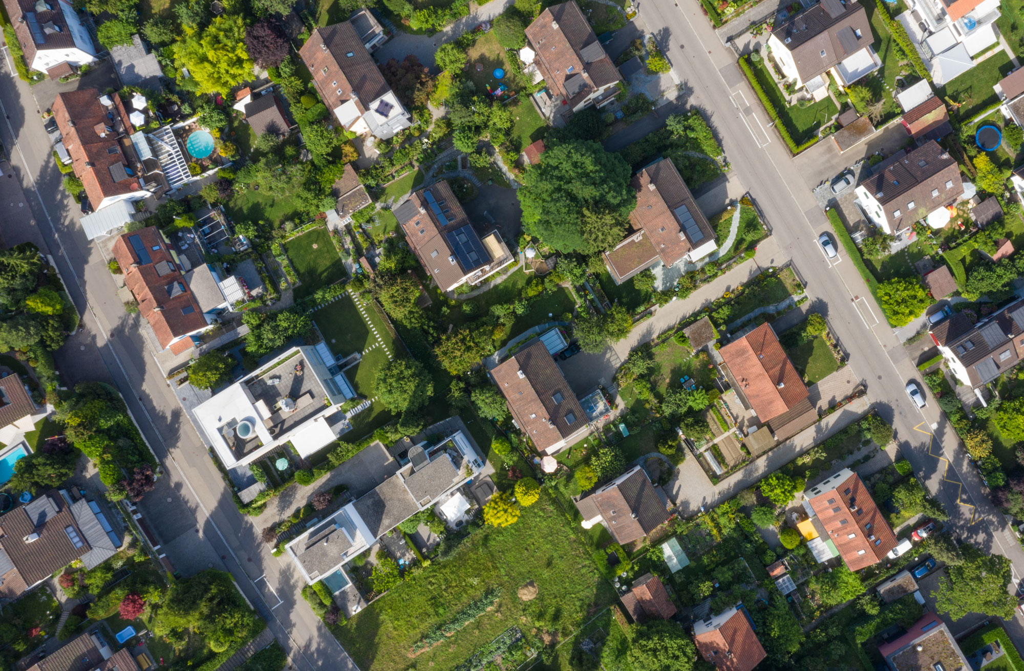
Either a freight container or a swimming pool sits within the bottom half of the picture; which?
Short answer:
swimming pool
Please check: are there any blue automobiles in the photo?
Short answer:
Yes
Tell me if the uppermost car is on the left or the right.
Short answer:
left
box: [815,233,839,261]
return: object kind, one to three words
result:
car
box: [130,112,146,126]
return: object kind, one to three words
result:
umbrella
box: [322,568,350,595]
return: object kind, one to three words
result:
swimming pool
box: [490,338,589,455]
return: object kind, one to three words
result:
house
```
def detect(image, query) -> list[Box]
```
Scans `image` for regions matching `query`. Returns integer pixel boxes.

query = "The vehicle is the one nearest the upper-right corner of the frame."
[828,172,855,193]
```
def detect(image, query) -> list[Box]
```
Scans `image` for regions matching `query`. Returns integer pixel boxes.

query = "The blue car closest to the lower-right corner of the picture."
[910,557,938,581]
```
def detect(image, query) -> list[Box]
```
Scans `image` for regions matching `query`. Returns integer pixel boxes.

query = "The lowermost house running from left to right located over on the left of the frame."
[29,623,149,671]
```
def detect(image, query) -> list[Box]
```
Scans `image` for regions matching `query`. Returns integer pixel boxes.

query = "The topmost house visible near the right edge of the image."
[902,0,1001,45]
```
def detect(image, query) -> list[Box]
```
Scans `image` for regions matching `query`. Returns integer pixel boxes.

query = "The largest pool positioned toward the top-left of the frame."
[187,130,218,160]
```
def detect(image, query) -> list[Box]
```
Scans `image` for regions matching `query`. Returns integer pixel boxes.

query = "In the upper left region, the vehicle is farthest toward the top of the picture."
[37,111,57,134]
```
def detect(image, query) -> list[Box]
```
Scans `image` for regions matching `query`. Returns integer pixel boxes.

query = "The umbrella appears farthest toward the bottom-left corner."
[275,457,289,470]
